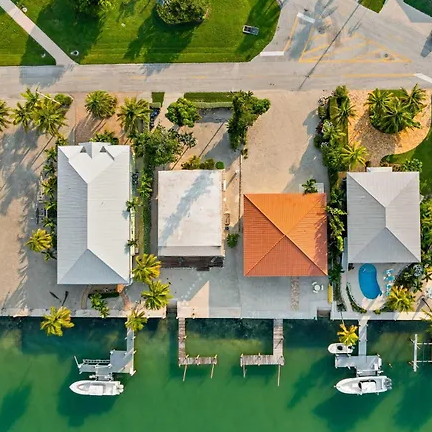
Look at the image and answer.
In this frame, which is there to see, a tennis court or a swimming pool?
swimming pool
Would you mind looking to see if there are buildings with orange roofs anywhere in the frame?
Yes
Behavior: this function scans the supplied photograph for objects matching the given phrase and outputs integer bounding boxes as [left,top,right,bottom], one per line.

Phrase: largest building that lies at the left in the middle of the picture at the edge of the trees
[57,144,145,284]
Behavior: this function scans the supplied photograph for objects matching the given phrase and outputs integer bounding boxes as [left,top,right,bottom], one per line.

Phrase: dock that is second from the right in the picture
[241,314,284,380]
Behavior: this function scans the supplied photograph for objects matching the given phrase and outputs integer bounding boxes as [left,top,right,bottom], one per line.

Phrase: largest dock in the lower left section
[74,313,137,377]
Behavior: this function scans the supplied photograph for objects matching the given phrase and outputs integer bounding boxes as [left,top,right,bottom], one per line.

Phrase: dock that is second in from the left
[177,314,217,379]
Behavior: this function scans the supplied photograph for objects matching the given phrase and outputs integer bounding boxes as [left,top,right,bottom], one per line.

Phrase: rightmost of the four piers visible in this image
[334,313,382,377]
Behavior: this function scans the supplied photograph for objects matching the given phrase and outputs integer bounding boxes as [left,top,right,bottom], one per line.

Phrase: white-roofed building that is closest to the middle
[157,170,224,271]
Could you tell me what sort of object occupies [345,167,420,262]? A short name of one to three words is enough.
house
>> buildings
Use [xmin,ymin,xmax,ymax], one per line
[57,144,145,284]
[345,167,420,262]
[242,193,327,278]
[157,170,224,271]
